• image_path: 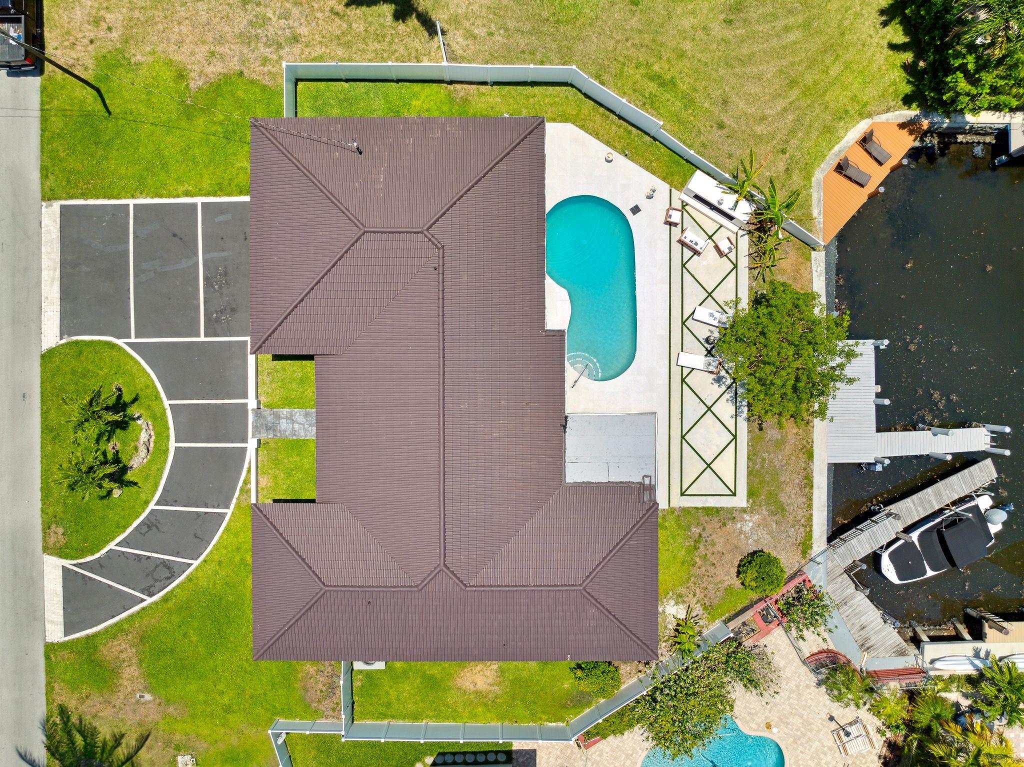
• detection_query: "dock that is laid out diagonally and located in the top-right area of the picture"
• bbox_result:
[823,122,928,246]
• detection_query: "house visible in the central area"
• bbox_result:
[247,115,660,663]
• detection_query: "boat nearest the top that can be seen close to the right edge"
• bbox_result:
[875,498,1003,583]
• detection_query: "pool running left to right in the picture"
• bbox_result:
[637,709,791,767]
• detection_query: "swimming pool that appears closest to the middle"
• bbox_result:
[545,196,637,388]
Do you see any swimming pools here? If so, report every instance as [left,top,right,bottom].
[545,196,637,388]
[637,709,791,767]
